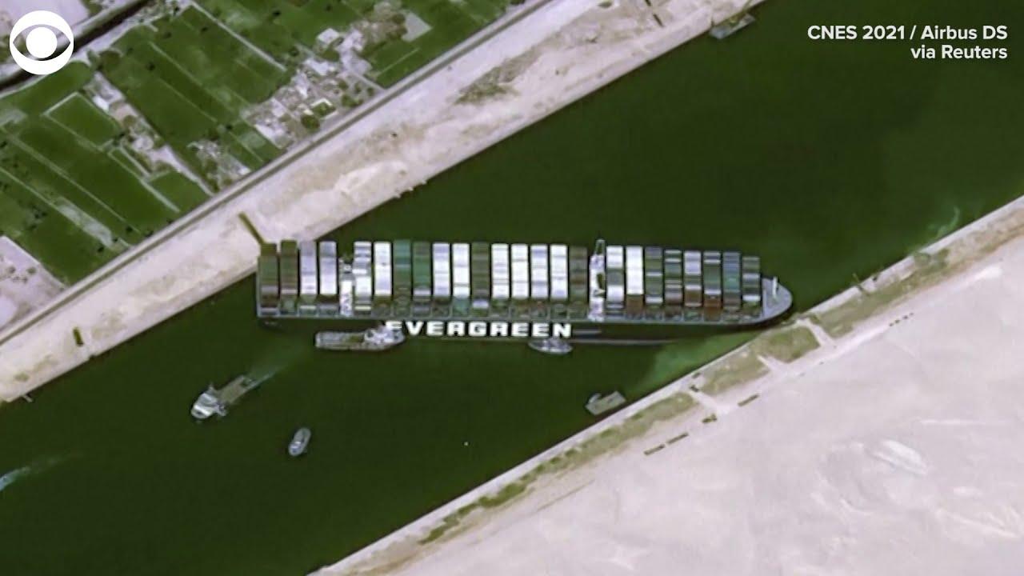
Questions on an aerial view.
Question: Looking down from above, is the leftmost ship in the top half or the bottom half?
bottom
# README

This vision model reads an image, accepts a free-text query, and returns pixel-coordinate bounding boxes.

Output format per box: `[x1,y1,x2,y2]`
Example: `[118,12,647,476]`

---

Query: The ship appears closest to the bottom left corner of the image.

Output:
[190,372,255,420]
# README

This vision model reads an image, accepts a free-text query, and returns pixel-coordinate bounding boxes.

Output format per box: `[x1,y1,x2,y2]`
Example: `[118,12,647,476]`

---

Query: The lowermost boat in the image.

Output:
[291,429,310,456]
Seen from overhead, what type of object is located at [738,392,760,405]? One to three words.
vehicle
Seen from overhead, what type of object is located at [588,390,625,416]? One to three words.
ship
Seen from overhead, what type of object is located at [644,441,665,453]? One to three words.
vehicle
